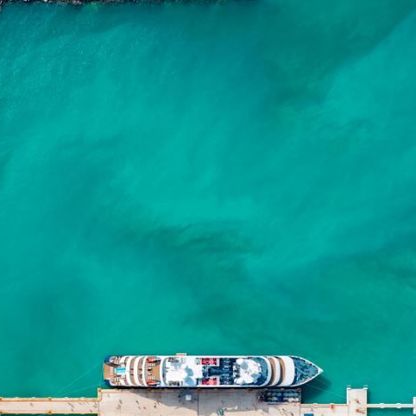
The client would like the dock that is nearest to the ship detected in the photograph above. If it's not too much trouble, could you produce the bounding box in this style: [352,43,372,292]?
[98,387,302,416]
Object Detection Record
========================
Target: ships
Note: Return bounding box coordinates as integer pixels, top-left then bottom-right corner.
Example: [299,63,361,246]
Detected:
[103,353,324,388]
